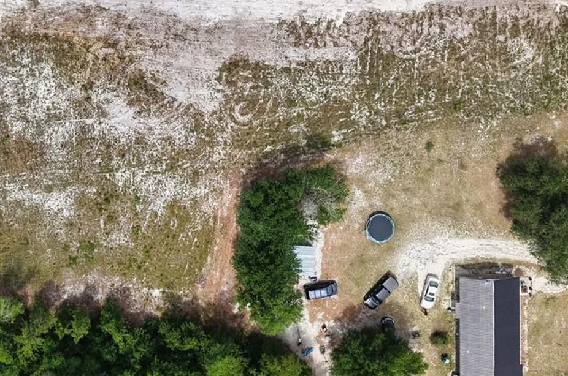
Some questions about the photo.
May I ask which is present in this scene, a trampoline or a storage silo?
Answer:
trampoline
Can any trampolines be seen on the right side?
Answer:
Yes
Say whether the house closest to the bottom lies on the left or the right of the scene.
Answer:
right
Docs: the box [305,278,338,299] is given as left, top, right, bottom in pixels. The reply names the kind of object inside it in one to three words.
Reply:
vehicle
